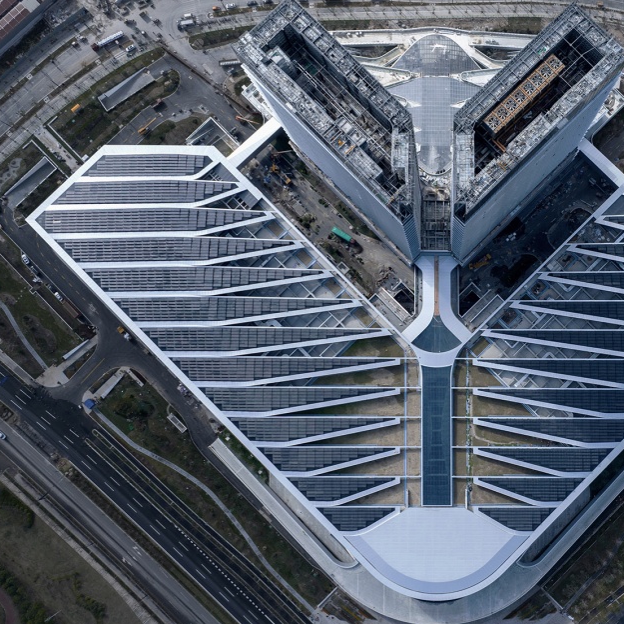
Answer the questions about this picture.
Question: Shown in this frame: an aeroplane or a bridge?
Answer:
bridge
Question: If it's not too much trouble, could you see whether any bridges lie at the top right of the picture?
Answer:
Yes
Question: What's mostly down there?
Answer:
buildings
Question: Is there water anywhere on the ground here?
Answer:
No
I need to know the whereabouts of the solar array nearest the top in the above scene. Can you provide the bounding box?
[95,157,202,173]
